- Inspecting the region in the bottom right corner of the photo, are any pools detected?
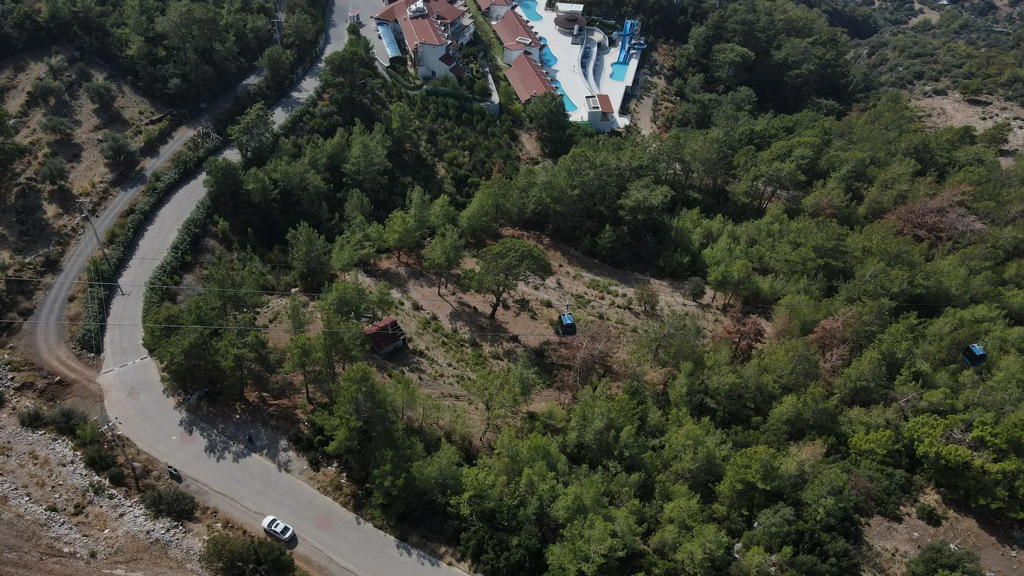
No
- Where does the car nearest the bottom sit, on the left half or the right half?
left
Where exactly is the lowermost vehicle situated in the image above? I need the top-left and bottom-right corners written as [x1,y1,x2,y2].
[260,514,293,539]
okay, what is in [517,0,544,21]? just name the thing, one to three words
swimming pool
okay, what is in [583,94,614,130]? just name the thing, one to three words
building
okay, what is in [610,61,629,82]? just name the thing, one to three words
swimming pool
